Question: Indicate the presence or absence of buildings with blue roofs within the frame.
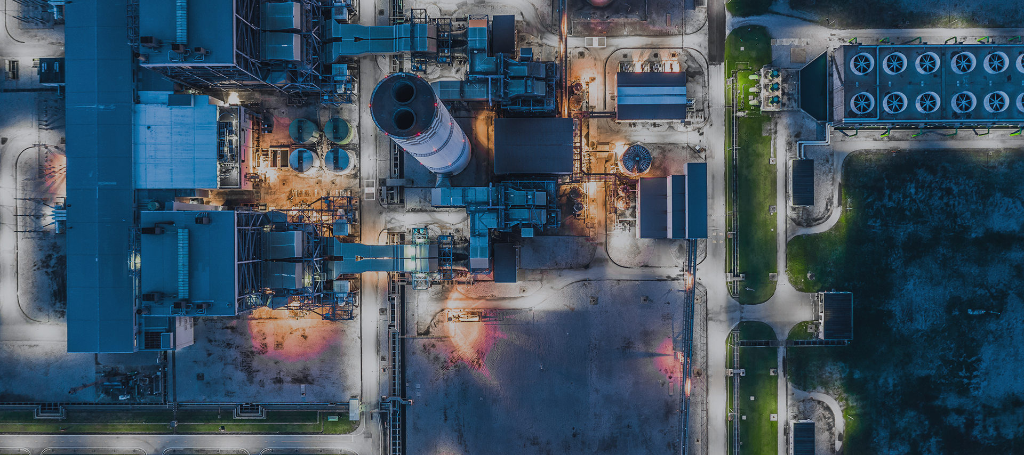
Yes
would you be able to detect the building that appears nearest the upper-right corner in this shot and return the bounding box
[758,68,801,112]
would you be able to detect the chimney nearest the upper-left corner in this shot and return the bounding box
[367,70,471,188]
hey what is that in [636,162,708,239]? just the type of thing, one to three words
building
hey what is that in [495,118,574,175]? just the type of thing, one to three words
shed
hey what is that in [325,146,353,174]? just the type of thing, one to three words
water tank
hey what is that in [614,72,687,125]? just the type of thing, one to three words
building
